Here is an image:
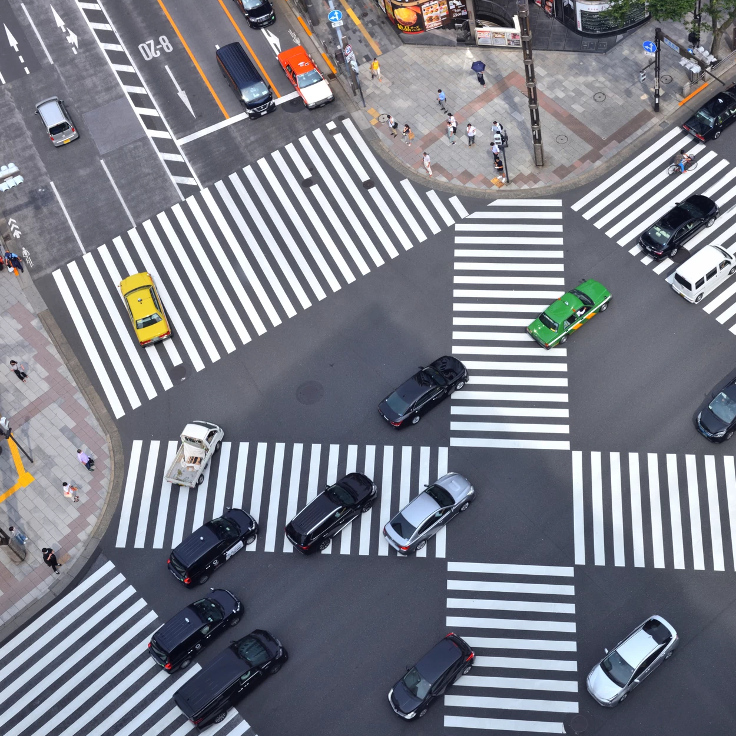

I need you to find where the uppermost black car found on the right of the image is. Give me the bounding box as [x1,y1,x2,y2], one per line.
[684,86,736,144]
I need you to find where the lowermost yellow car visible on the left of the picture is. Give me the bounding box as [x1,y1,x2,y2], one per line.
[122,270,171,348]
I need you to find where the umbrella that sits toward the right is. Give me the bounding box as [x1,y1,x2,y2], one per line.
[471,59,489,71]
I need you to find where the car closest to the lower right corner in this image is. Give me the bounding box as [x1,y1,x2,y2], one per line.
[589,615,680,708]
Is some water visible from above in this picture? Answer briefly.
No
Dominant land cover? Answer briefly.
paved ground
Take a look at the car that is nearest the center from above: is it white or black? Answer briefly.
black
